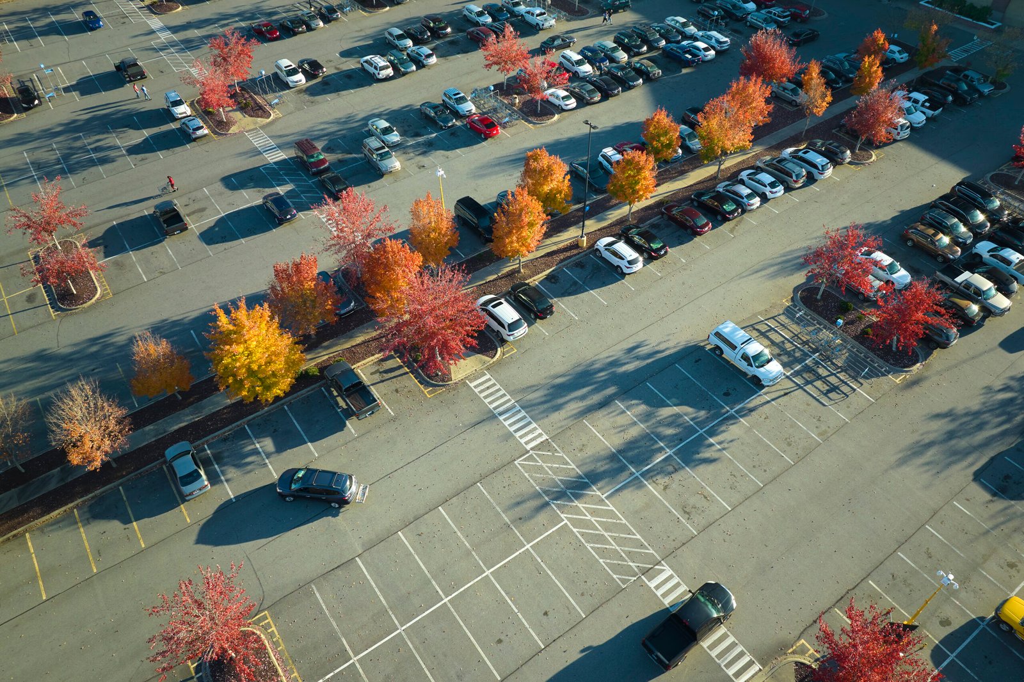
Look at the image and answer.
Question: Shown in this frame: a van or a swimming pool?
van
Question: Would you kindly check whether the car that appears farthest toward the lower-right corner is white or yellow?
yellow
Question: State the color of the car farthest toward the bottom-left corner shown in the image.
blue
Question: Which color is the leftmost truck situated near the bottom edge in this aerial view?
black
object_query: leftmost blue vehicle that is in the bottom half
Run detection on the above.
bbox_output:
[166,441,216,509]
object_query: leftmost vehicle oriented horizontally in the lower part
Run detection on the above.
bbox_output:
[271,463,360,512]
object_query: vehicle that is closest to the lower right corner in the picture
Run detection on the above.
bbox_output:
[997,594,1024,641]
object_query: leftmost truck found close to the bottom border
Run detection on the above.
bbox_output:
[639,576,742,674]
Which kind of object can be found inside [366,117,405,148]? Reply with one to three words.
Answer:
car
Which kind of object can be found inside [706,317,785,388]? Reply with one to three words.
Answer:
truck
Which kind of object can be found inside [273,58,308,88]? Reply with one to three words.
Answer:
vehicle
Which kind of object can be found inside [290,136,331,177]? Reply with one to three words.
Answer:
van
